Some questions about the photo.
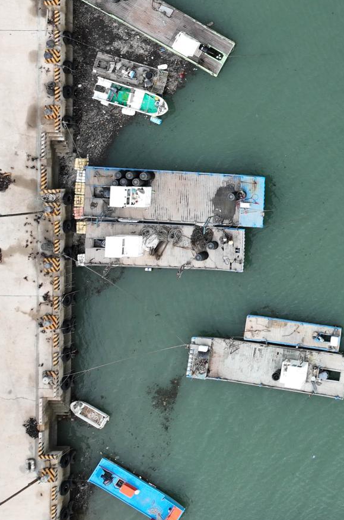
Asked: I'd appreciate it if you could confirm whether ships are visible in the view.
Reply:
Yes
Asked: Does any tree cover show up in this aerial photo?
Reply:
No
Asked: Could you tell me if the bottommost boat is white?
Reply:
No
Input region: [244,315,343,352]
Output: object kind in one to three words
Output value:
ship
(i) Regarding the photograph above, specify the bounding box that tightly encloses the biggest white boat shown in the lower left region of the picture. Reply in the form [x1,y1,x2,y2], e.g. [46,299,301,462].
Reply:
[69,400,110,428]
